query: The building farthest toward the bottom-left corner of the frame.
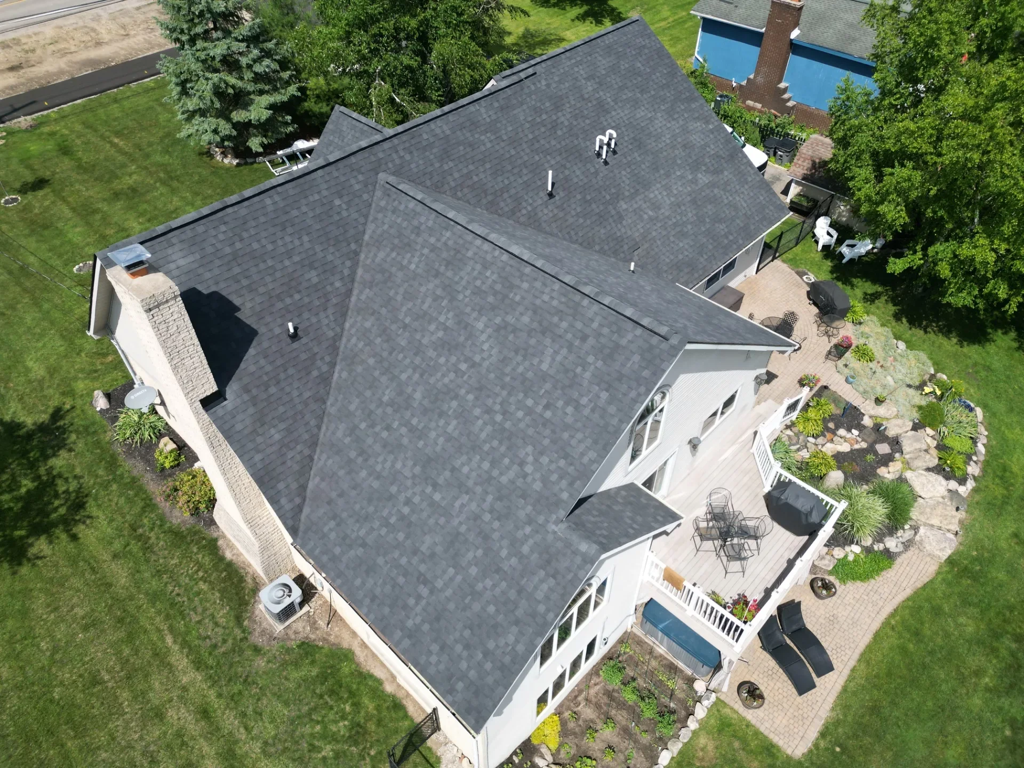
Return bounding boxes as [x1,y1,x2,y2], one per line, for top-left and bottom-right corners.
[86,18,799,768]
